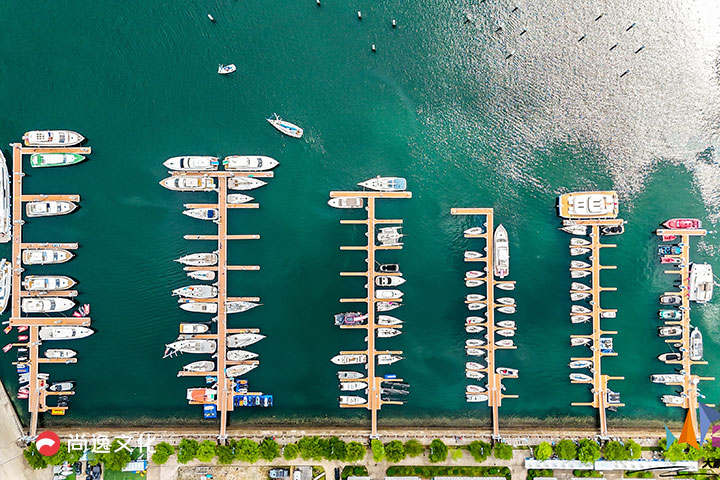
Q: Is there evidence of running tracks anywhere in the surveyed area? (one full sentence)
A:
No, no running track can be seen from above.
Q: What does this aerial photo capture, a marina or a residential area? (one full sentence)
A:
This looks like a marina.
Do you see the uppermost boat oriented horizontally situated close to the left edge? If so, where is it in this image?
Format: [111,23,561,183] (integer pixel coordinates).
[23,131,84,147]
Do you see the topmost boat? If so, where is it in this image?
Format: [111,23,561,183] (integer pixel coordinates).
[217,61,236,74]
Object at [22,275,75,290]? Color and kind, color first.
white boat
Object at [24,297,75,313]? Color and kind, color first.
white boat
